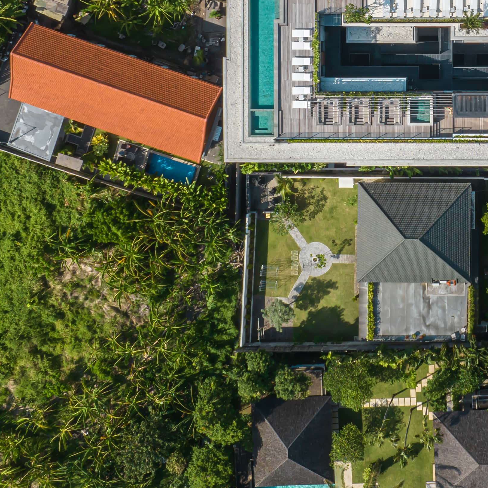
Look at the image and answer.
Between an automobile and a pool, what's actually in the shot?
pool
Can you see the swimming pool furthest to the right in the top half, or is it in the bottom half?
top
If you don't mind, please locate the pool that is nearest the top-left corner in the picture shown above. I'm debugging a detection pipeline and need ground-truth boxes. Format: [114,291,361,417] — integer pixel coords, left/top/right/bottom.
[144,150,200,178]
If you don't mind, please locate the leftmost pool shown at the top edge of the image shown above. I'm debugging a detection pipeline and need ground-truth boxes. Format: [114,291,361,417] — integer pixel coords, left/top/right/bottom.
[252,0,280,110]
